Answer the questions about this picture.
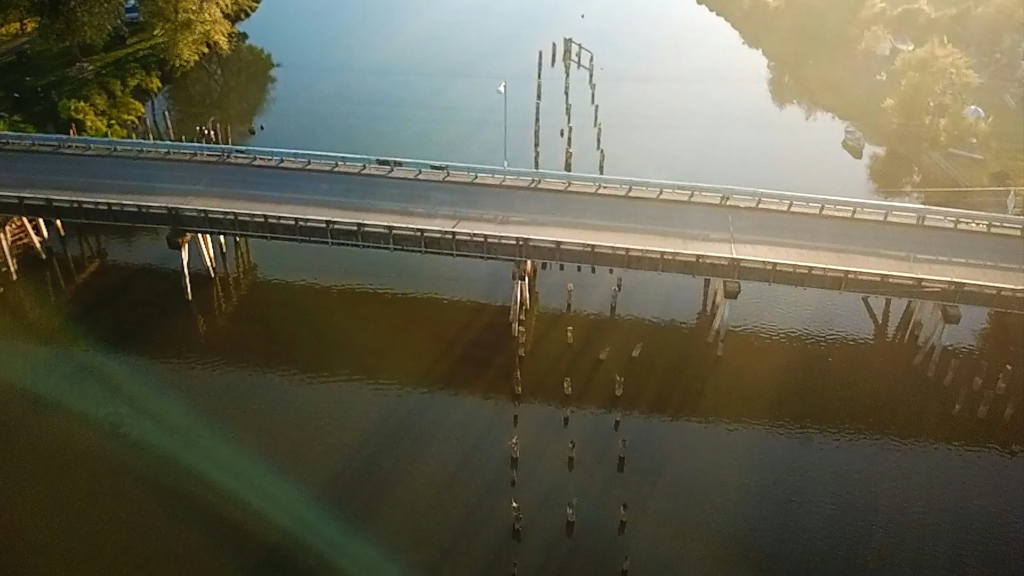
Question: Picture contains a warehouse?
No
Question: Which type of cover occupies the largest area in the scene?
water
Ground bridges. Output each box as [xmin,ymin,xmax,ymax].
[0,132,1024,378]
